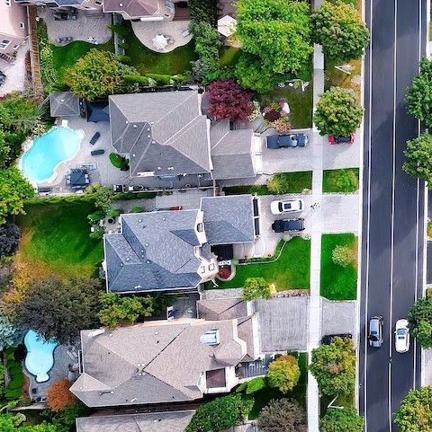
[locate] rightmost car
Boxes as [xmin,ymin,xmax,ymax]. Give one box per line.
[395,319,409,352]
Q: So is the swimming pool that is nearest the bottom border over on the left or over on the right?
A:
left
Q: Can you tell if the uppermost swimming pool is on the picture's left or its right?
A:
left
